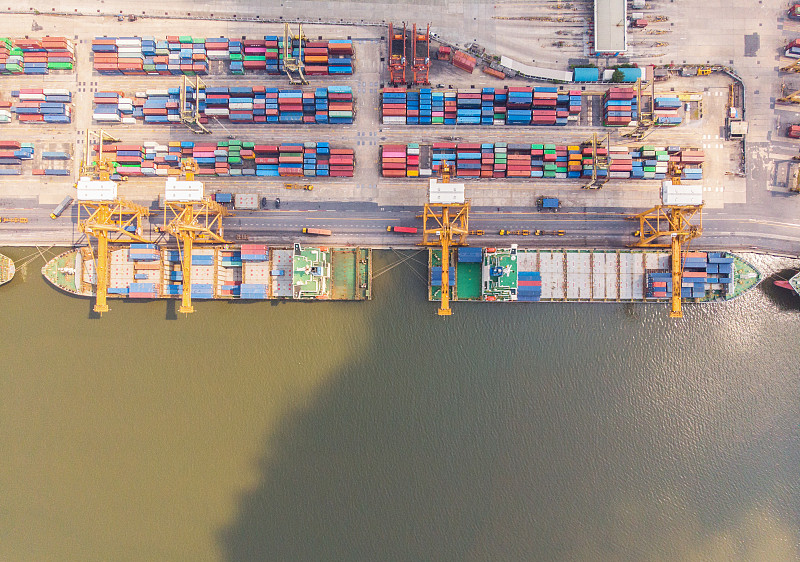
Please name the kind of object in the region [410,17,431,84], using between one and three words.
crane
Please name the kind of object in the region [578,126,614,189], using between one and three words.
crane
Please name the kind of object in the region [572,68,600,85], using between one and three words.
shed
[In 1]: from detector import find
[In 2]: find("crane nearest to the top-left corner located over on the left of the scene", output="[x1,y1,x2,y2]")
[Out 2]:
[81,123,125,181]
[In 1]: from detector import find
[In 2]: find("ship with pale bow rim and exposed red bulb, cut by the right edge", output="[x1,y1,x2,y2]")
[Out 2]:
[774,268,800,295]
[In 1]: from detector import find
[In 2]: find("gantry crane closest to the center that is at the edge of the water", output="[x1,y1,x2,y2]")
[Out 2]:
[414,160,477,318]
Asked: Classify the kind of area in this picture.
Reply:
port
